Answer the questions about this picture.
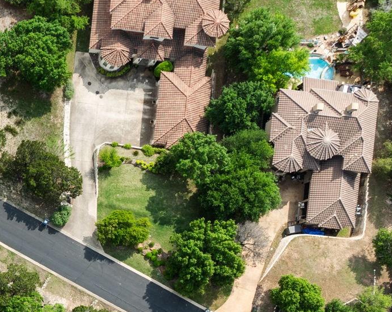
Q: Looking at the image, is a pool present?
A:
Yes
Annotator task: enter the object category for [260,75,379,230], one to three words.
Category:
house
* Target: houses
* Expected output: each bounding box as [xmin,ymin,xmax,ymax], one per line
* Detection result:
[260,75,379,230]
[85,0,231,150]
